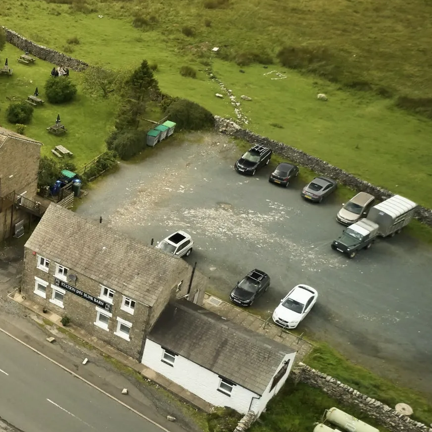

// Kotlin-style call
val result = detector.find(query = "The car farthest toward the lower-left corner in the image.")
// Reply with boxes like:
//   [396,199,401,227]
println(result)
[157,226,200,257]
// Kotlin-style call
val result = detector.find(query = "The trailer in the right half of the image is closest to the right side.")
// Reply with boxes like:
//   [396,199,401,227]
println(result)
[367,194,417,240]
